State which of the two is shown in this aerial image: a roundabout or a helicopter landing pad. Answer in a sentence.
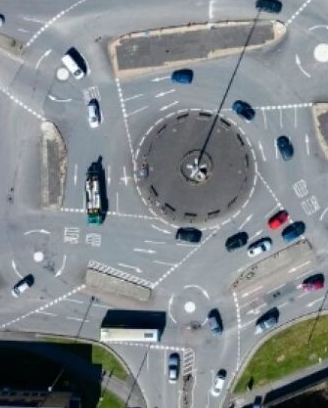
The image shows a roundabout.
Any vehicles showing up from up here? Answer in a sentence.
Yes, the image includes a vehicle.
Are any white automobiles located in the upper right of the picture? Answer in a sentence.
No, no white automobile can be made out in the upper right of the picture.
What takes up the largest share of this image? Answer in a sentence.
The largest share of the image is taken up by paved ground.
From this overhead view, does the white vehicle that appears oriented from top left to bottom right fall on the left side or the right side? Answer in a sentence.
The white vehicle that appears oriented from top left to bottom right sits on the left side.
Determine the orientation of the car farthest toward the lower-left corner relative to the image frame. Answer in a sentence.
The car farthest toward the lower-left corner is oriented diagonally.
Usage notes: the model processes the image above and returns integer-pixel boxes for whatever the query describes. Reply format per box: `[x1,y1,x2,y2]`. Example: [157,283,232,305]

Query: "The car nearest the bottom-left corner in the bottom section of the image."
[12,277,34,297]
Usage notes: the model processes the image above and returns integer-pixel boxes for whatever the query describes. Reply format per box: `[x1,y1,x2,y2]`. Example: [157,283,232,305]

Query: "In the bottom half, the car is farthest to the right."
[302,277,325,292]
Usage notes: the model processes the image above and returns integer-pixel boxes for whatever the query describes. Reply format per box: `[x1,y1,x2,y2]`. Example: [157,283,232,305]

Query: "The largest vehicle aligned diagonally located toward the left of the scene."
[59,51,86,79]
